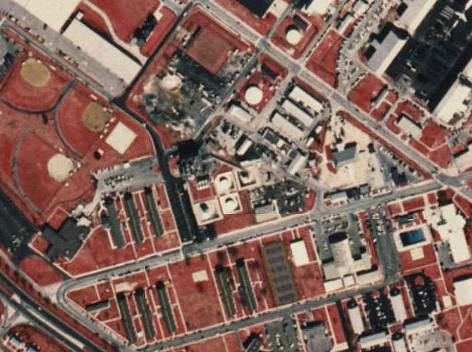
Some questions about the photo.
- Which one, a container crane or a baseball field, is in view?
baseball field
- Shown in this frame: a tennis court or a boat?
tennis court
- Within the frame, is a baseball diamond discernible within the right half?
No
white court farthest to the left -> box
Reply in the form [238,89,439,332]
[105,121,137,154]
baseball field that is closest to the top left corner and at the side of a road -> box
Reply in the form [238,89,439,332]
[0,54,77,115]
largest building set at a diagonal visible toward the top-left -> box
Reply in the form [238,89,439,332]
[62,18,145,87]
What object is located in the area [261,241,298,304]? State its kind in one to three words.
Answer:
tennis court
